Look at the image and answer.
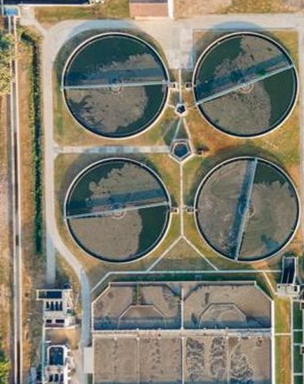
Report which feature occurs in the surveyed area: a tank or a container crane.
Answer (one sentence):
The image shows a tank.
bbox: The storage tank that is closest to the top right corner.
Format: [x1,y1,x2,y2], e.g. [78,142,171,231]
[193,32,299,138]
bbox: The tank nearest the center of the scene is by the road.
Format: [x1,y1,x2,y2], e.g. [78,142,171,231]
[65,159,173,264]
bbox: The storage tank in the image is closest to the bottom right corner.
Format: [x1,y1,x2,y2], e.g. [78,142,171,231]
[194,156,301,263]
